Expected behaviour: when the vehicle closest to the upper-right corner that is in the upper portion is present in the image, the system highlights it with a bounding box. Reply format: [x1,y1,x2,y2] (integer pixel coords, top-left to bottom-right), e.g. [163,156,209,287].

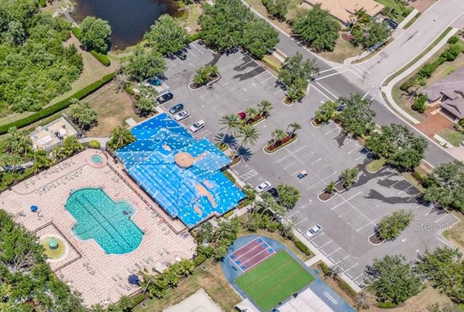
[384,16,399,28]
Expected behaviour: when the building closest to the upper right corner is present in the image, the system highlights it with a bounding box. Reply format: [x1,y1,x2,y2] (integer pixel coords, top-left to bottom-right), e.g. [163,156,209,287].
[417,55,464,120]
